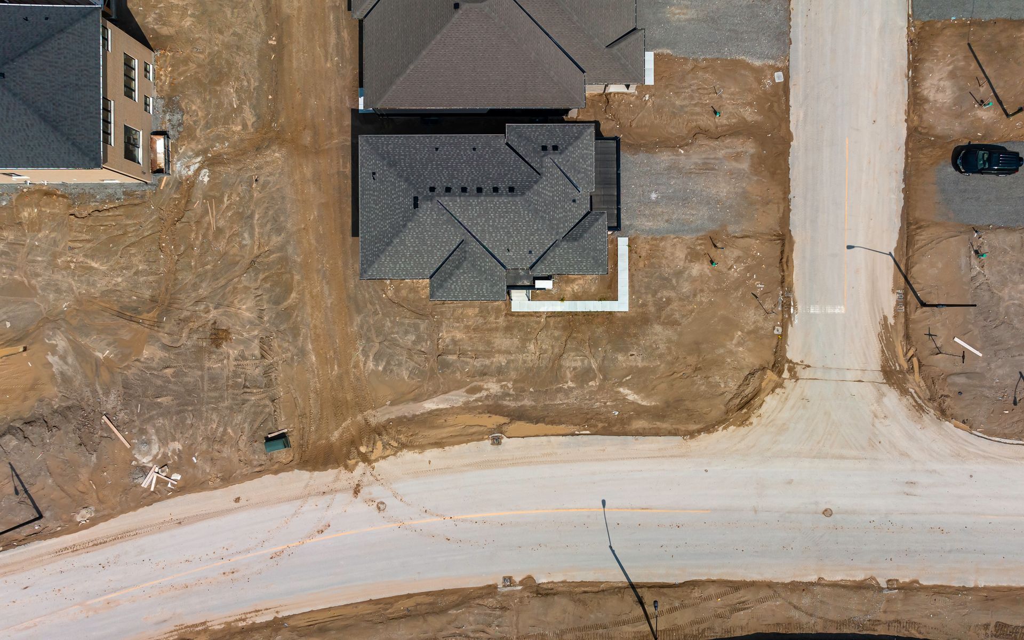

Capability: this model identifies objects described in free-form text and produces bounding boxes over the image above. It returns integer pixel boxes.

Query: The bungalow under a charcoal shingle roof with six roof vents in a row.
[359,123,621,301]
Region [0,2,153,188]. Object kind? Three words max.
house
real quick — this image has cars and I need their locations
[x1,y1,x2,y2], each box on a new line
[957,146,1024,177]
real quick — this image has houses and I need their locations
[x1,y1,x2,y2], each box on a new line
[359,123,621,301]
[0,2,153,188]
[351,0,644,115]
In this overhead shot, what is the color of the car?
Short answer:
black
